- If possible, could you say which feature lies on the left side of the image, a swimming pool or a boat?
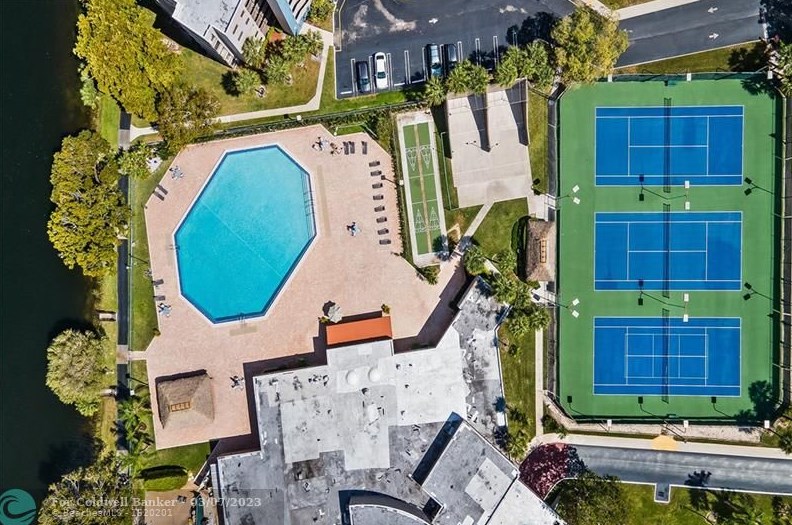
swimming pool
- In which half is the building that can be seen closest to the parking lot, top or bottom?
top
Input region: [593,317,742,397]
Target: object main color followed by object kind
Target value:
blue tennis court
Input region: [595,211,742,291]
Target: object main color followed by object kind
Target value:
blue tennis court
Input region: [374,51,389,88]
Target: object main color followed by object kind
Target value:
white car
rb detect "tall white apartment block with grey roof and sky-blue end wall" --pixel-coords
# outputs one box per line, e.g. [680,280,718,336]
[159,0,306,70]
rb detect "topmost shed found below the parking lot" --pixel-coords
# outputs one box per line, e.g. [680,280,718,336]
[526,219,557,282]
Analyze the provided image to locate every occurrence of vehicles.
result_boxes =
[444,43,459,74]
[374,51,389,88]
[427,44,443,82]
[355,60,370,93]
